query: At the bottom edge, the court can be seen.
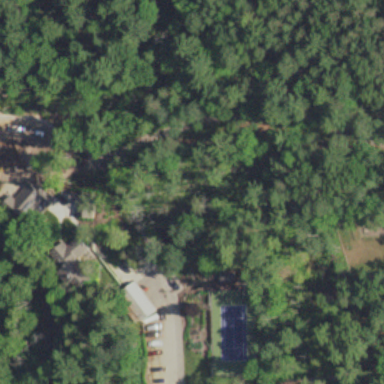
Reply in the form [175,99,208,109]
[210,292,254,373]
